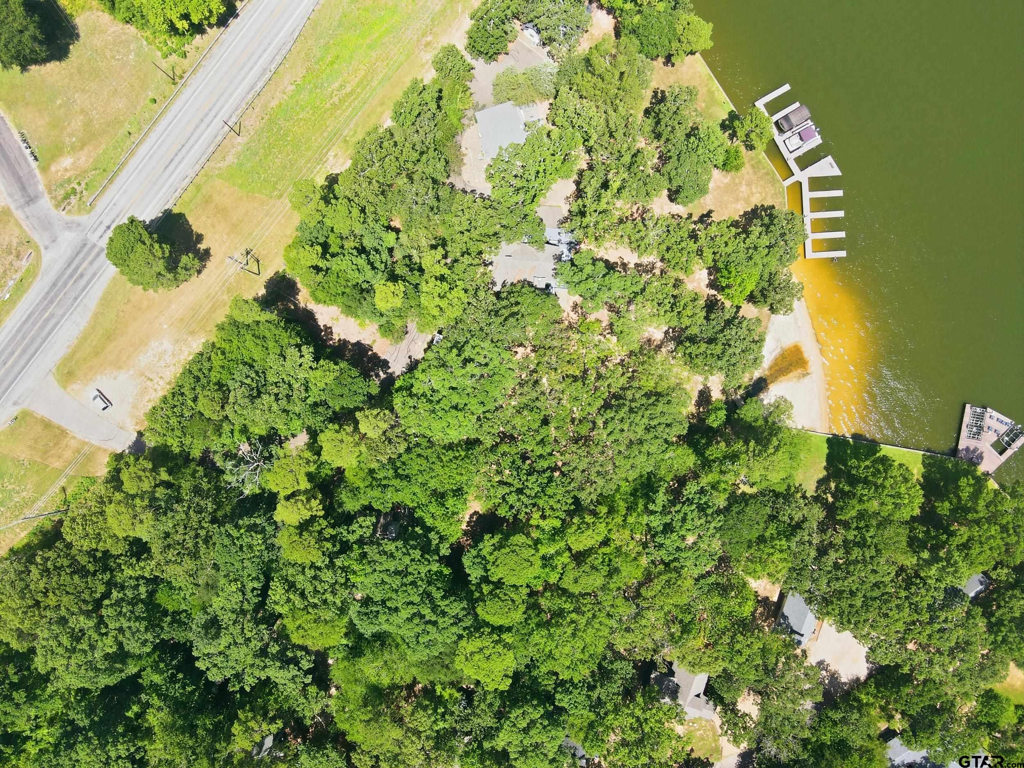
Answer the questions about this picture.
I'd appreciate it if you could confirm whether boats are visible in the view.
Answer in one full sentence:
Yes, a boat is visible in the scene.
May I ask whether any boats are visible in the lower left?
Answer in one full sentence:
No, no boat is visible in the lower left.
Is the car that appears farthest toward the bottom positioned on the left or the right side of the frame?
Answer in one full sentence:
You can find the car that appears farthest toward the bottom on the left side of the picture.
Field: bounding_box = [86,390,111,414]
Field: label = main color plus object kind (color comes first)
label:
white car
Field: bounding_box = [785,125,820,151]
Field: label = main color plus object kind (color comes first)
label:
white boat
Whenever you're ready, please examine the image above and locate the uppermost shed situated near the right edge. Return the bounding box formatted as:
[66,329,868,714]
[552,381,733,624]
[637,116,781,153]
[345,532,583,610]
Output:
[957,572,989,597]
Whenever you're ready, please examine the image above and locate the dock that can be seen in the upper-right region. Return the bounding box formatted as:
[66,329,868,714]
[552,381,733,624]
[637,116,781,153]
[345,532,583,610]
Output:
[753,83,846,258]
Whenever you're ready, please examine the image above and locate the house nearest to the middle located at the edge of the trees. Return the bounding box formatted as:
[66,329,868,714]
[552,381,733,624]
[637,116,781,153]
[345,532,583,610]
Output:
[493,228,573,293]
